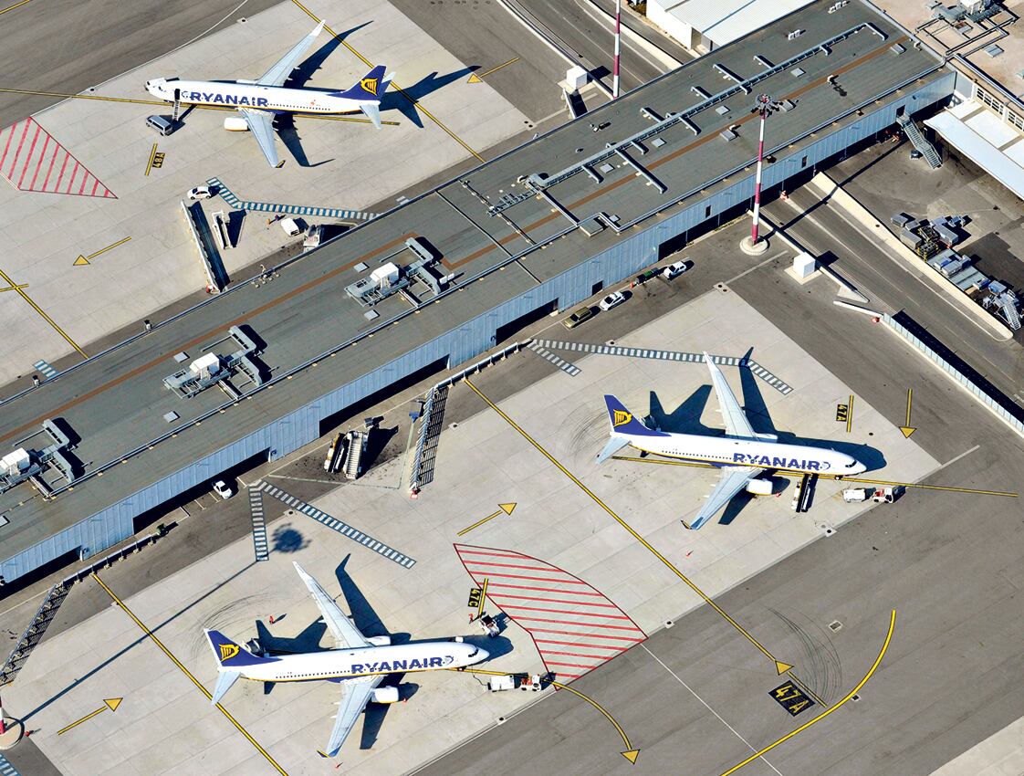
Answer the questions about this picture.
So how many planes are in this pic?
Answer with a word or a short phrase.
three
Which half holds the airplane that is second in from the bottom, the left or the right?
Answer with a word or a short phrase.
right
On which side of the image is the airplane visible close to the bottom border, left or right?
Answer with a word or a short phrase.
left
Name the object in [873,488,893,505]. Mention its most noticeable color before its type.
white work vehicle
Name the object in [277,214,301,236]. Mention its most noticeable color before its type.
white vehicle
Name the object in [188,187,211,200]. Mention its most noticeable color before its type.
white vehicle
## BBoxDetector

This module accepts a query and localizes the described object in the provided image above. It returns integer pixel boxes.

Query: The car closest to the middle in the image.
[566,309,596,329]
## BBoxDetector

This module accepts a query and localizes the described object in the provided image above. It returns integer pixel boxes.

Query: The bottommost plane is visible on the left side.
[205,560,488,756]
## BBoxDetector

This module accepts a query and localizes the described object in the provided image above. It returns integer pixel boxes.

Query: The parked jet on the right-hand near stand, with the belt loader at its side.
[597,351,866,531]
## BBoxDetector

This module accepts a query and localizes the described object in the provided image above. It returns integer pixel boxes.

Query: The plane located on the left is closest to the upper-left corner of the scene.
[151,20,394,167]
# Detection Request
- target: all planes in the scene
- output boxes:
[151,20,394,167]
[205,560,488,756]
[597,351,866,531]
